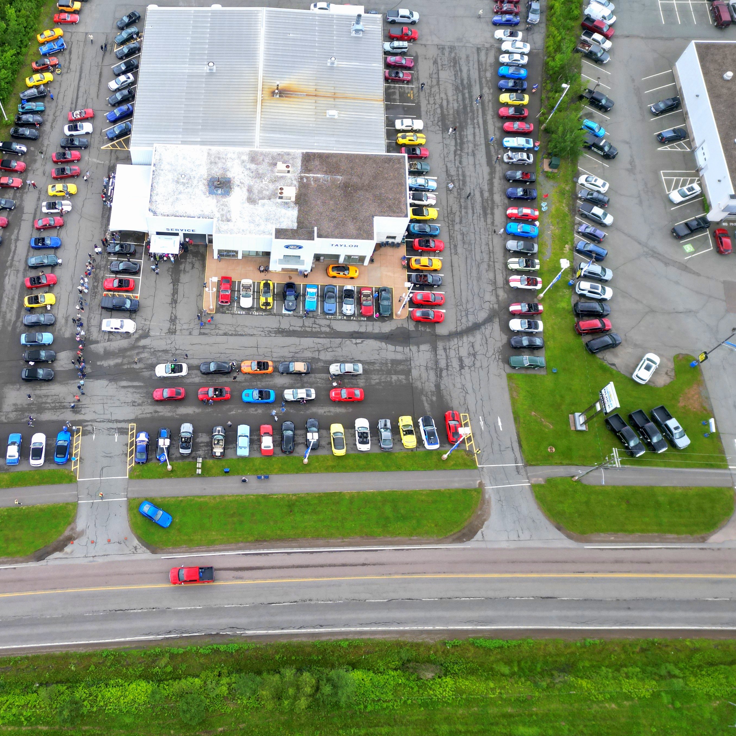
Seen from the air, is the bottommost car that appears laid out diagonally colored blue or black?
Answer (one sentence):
The bottommost car that appears laid out diagonally looks blue in the image.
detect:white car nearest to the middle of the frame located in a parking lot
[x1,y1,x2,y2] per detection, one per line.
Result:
[329,361,363,377]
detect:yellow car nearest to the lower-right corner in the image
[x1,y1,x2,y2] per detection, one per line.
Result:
[400,416,416,449]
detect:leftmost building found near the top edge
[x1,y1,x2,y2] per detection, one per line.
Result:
[129,1,412,275]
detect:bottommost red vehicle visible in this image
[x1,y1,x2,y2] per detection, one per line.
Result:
[170,566,215,585]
